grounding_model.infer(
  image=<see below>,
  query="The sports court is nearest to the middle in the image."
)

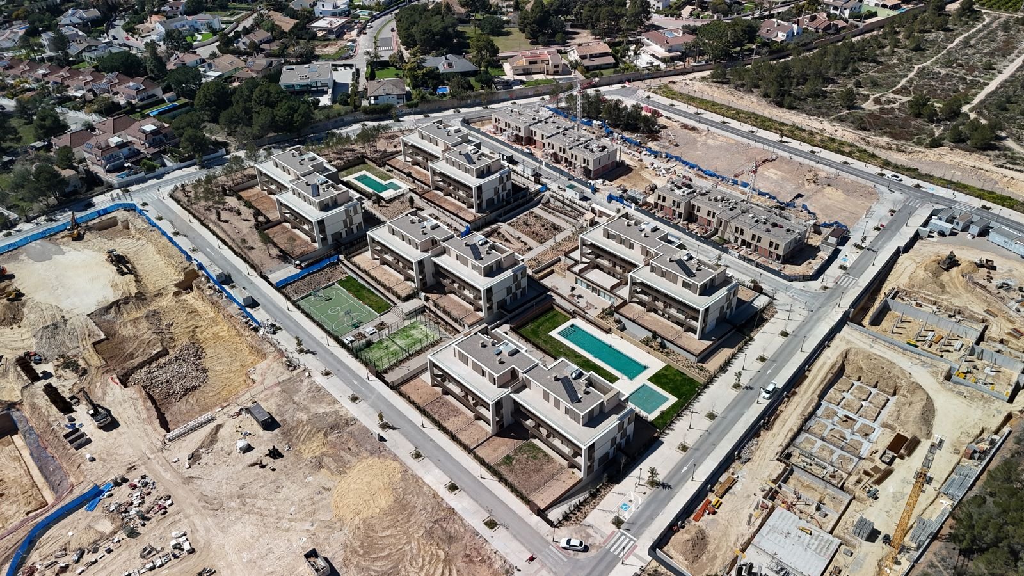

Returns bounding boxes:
[356,307,441,369]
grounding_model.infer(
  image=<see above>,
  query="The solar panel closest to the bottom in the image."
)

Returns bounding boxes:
[558,377,582,400]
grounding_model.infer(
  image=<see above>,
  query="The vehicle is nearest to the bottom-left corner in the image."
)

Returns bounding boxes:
[81,388,112,426]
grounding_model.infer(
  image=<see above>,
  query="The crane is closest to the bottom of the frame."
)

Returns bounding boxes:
[873,431,946,576]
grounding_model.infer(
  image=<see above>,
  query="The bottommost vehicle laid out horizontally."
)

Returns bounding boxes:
[560,538,584,551]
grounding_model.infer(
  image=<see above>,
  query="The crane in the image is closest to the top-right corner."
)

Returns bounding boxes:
[680,149,773,202]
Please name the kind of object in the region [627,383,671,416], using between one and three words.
swimming pool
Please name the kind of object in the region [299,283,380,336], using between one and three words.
sports court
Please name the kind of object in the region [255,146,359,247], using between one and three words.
building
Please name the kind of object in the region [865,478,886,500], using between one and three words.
work vehicle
